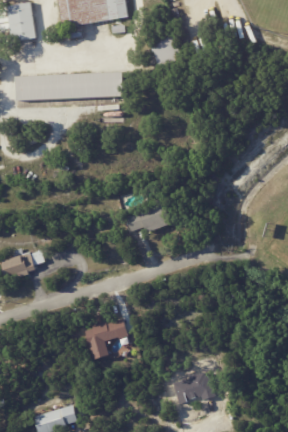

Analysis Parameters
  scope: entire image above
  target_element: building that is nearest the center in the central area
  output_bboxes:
[127,208,165,234]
